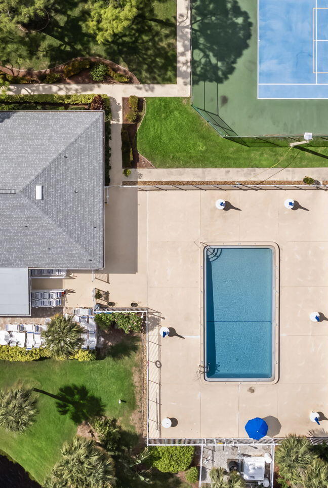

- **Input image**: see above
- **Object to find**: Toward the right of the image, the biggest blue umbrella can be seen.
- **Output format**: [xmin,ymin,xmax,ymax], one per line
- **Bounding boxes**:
[245,415,267,438]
